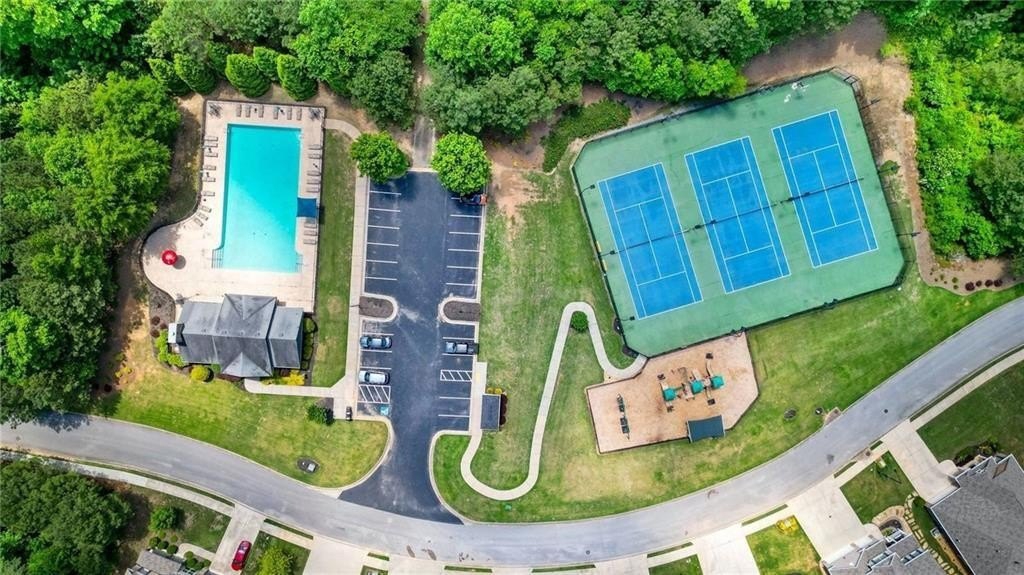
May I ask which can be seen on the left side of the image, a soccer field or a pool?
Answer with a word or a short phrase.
pool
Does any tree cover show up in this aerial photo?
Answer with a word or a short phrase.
Yes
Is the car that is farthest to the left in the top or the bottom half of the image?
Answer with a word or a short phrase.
bottom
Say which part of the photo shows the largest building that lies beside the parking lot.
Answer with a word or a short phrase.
left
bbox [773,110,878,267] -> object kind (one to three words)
tennis court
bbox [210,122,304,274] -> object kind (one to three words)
swimming pool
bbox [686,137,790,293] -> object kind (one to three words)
tennis court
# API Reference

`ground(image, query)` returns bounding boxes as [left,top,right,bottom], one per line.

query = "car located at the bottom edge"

[231,540,252,571]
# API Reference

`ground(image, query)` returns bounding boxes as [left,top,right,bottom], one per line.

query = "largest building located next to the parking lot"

[166,295,309,377]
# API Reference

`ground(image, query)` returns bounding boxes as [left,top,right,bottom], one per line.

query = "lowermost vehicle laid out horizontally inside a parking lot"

[359,371,390,385]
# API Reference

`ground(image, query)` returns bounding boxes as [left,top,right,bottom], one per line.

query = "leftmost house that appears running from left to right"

[119,546,190,575]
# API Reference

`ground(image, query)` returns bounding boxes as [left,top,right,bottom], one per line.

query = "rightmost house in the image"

[924,450,1024,575]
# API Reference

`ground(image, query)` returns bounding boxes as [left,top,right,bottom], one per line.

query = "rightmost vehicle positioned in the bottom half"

[446,341,478,356]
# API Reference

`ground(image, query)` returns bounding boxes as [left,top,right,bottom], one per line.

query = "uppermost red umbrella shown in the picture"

[162,250,179,265]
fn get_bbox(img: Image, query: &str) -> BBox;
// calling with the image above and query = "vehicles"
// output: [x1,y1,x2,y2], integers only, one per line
[346,407,351,421]
[359,371,390,385]
[231,540,252,571]
[361,335,392,349]
[446,341,478,356]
